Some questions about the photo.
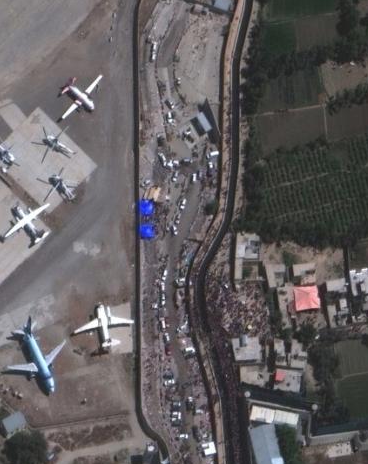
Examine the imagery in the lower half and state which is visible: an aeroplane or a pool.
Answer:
aeroplane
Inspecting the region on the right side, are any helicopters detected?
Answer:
No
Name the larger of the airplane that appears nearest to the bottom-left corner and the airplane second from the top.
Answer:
the airplane that appears nearest to the bottom-left corner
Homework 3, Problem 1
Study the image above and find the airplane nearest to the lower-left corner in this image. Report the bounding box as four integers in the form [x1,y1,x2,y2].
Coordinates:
[4,322,70,393]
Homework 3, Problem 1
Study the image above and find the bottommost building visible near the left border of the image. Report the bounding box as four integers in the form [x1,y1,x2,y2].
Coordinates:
[1,411,27,436]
